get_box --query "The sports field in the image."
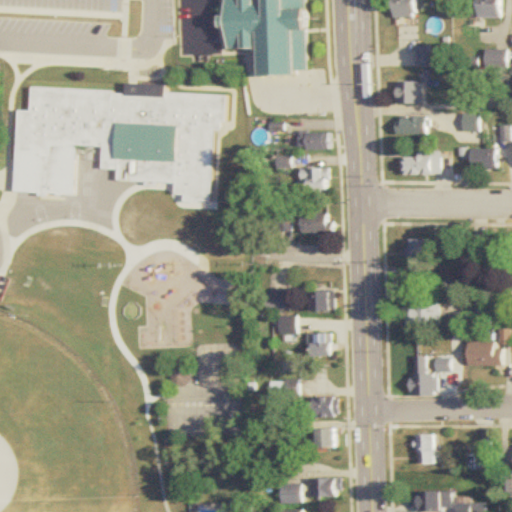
[0,312,134,512]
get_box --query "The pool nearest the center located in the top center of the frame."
[252,128,272,146]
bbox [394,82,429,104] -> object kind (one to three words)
house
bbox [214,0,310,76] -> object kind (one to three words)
building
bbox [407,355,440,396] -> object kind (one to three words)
house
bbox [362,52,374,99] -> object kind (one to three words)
vehicle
